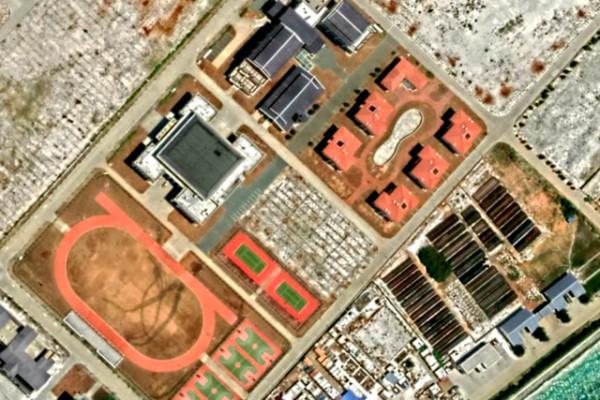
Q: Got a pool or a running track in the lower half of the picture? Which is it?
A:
running track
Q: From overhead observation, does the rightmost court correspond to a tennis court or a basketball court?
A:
tennis court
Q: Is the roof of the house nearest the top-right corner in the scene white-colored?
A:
No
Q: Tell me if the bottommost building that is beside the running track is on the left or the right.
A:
left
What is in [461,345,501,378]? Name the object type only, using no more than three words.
building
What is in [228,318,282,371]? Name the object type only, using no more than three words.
basketball court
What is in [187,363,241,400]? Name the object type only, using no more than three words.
basketball court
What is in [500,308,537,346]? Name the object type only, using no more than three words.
house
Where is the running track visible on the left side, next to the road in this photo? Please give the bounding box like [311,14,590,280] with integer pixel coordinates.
[54,190,238,372]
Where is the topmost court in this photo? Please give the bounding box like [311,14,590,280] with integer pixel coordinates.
[221,229,281,290]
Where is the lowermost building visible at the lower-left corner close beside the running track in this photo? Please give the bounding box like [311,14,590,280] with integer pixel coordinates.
[0,308,64,395]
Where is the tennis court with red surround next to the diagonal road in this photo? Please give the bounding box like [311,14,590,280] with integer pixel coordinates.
[266,270,321,327]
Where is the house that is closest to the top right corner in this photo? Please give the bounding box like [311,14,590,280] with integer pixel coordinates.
[444,113,482,154]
